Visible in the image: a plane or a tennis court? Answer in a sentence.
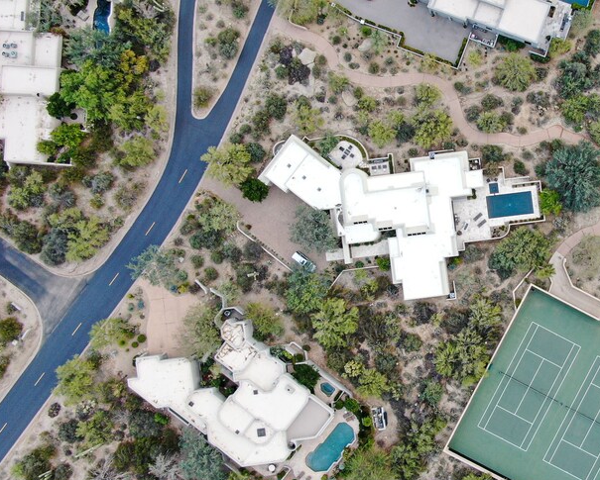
It is a tennis court that can be seen here.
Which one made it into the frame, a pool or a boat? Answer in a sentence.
The one in the frame is a pool.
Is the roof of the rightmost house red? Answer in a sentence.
No, the roof of the rightmost house is actually white.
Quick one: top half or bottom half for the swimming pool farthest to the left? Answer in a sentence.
Seen from above, the swimming pool farthest to the left lies in the top half of the view.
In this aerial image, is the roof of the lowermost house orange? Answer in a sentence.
No, the roof of the lowermost house is actually white.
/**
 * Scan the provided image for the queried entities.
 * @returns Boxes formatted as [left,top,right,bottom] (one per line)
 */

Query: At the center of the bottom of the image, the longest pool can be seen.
[303,421,356,474]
